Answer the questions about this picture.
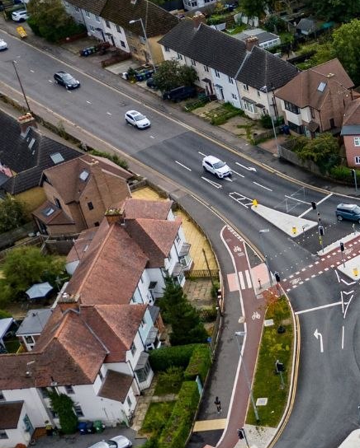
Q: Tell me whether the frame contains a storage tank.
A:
No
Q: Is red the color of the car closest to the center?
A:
No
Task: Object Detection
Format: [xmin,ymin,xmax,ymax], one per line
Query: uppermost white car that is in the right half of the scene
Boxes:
[199,153,233,178]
